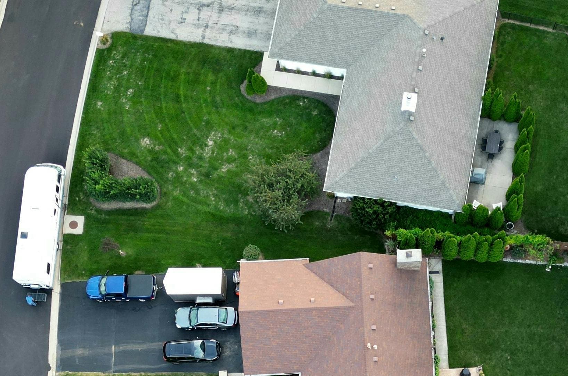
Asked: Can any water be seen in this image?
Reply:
No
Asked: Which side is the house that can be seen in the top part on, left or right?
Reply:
right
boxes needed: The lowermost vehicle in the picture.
[164,336,223,366]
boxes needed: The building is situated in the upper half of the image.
[266,0,501,219]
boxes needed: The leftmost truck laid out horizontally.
[87,268,160,303]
